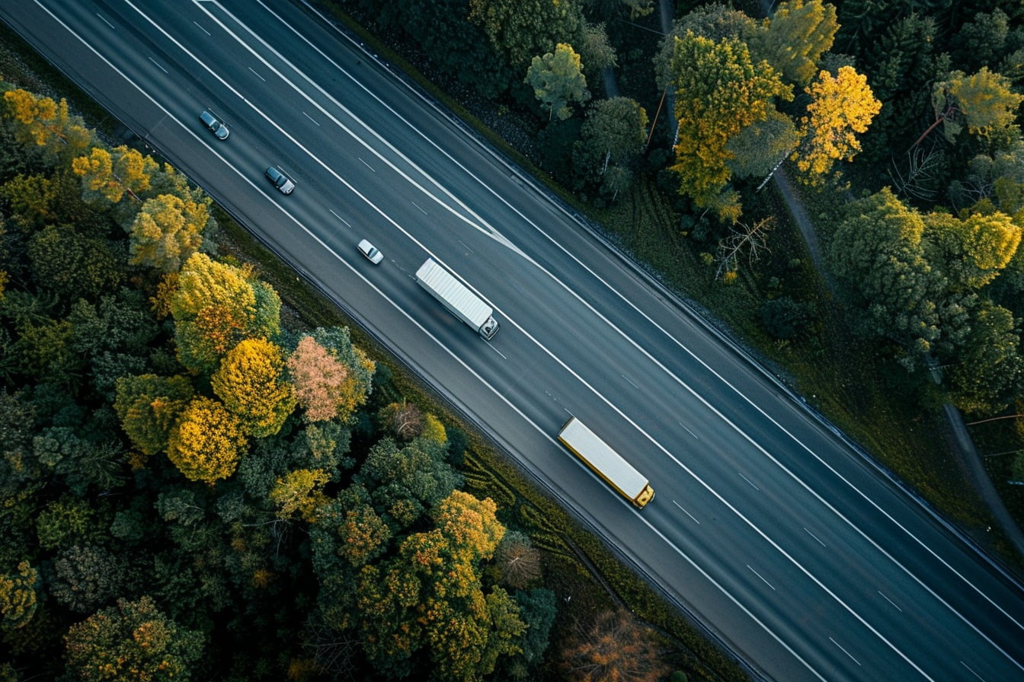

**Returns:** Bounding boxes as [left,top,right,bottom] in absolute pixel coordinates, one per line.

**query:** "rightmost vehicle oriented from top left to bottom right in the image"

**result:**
[556,417,660,512]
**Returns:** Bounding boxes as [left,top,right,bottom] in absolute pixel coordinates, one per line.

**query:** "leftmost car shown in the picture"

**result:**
[196,109,234,143]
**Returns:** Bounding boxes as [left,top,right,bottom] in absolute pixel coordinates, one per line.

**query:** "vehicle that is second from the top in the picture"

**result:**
[262,164,299,197]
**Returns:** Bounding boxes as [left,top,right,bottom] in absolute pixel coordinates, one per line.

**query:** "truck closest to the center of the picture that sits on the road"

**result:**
[416,258,507,342]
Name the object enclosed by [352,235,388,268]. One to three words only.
car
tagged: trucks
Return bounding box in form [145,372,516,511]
[556,417,660,512]
[416,258,507,342]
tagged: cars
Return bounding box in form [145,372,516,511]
[352,235,388,268]
[196,109,234,143]
[262,164,299,197]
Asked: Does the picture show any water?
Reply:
No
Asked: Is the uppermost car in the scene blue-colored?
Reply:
Yes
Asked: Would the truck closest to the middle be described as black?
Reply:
No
